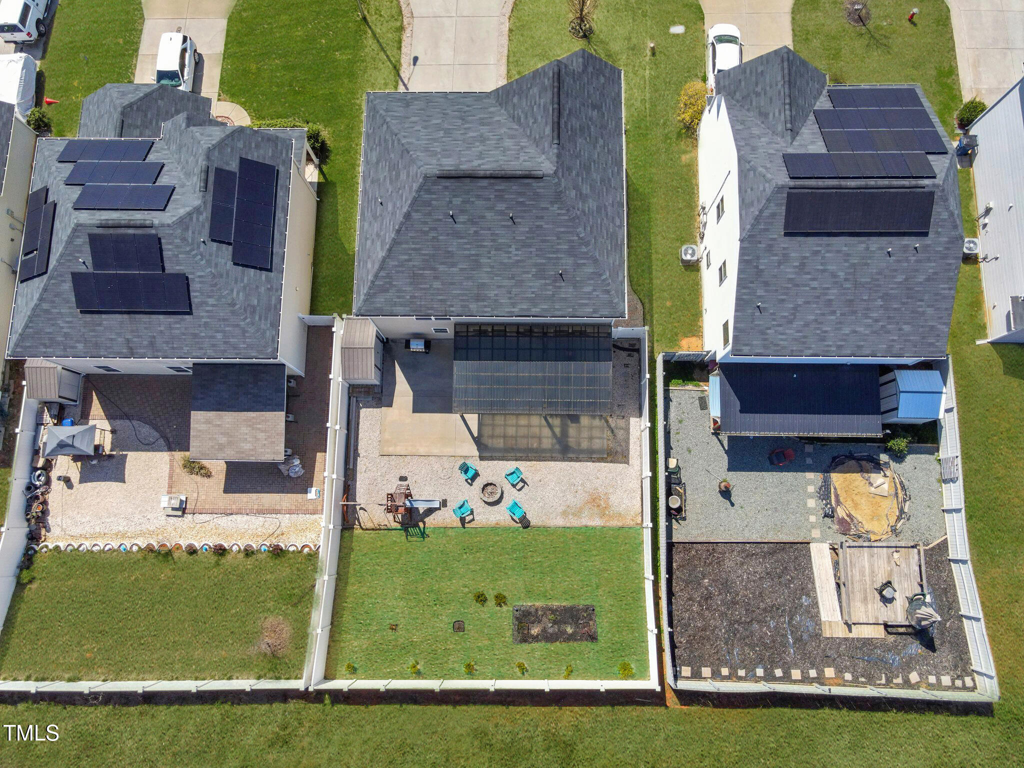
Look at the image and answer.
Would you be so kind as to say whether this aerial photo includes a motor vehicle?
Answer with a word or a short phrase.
Yes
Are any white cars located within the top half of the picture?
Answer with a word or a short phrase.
Yes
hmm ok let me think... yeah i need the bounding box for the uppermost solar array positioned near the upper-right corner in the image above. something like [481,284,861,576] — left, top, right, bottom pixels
[782,88,948,177]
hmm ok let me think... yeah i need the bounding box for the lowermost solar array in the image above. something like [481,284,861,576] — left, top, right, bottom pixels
[71,234,190,311]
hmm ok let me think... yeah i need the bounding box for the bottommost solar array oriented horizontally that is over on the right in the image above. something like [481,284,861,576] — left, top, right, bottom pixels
[784,190,934,231]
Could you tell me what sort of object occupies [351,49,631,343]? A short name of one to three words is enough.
house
